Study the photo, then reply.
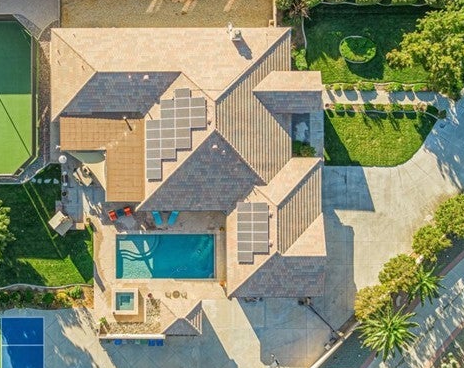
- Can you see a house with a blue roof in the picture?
No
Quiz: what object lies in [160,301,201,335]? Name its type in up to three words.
building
